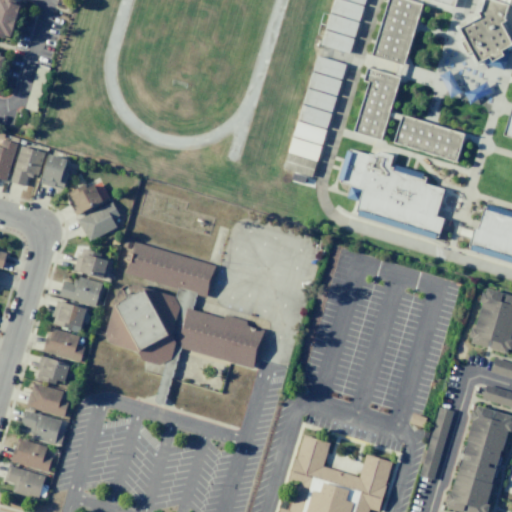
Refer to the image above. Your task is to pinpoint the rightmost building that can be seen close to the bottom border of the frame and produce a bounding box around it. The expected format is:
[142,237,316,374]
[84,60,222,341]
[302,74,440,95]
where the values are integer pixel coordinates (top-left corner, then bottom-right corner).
[445,408,512,512]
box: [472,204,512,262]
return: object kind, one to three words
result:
building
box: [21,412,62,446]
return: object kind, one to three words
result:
house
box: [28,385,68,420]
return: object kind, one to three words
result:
house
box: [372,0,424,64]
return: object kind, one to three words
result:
building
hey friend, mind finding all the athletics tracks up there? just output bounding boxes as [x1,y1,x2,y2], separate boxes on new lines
[104,0,289,162]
